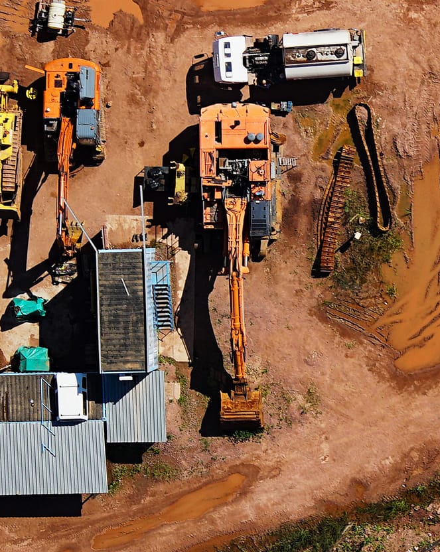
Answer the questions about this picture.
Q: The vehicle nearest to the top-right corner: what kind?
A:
truck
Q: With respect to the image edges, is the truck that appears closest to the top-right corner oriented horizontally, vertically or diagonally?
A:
horizontally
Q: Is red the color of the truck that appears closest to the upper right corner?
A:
No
